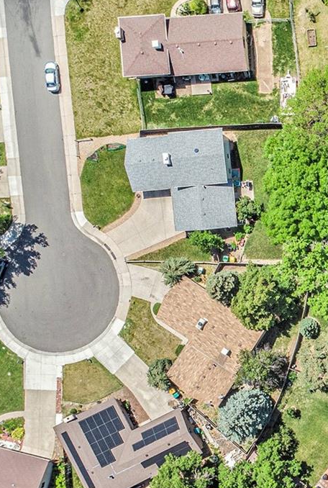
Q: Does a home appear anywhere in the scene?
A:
Yes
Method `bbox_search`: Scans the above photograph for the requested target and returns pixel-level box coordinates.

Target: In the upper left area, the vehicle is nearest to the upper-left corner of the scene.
[44,62,62,93]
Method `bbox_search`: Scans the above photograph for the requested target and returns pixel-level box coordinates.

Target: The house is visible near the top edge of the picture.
[115,12,249,80]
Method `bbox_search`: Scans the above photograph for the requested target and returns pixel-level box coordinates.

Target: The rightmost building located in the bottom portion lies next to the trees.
[156,275,265,407]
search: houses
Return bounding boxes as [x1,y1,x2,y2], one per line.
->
[53,398,204,488]
[156,275,265,407]
[126,127,238,232]
[115,12,249,80]
[0,445,56,488]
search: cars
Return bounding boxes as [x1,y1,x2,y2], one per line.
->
[0,256,9,283]
[249,0,265,19]
[227,0,242,12]
[209,0,224,13]
[44,62,62,93]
